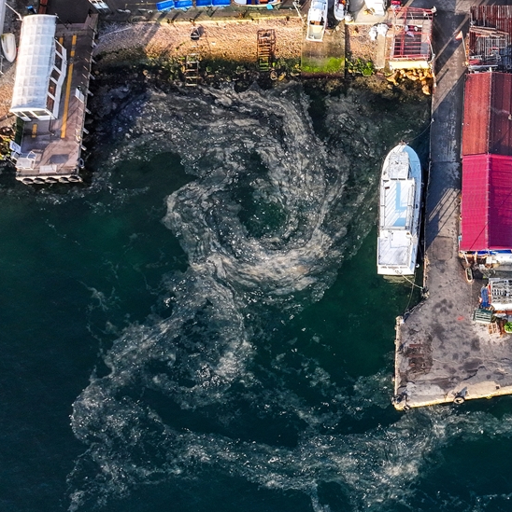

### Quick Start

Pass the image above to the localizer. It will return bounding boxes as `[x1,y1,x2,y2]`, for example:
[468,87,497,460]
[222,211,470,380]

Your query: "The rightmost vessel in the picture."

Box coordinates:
[377,126,427,310]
